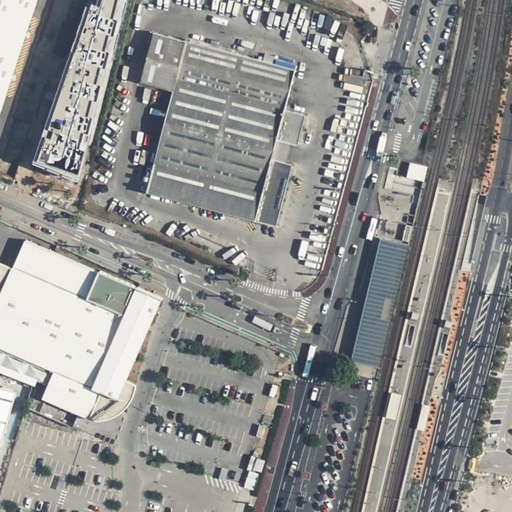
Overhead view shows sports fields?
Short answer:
No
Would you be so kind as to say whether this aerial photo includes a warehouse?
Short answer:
Yes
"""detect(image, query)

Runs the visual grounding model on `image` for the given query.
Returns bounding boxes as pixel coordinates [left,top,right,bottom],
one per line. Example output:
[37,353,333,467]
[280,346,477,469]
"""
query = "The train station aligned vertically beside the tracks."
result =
[362,178,481,512]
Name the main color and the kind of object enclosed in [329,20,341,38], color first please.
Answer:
white vehicle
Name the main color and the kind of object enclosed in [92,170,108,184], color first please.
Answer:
white vehicle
